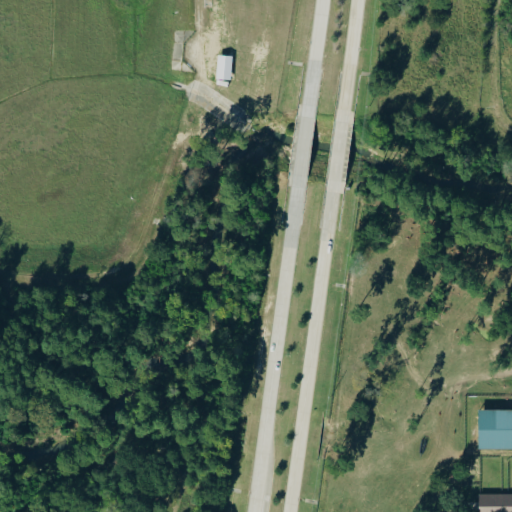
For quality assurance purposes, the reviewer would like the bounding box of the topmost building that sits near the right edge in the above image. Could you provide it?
[478,410,512,450]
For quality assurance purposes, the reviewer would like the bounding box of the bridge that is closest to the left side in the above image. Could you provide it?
[287,104,318,187]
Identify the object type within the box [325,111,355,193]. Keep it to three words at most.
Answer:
bridge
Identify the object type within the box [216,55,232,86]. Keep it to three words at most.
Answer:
shed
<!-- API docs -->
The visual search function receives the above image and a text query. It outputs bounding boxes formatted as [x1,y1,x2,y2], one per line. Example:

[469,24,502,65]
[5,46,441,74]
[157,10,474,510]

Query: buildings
[216,55,232,86]
[478,494,512,512]
[478,410,512,450]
